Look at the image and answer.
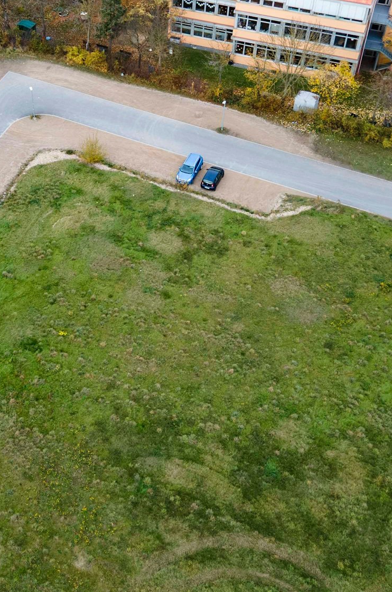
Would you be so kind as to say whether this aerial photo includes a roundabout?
No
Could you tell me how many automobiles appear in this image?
two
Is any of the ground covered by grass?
Yes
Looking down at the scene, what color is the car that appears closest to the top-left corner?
blue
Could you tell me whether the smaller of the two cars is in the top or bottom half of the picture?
top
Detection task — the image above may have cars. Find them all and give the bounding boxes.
[179,152,207,185]
[202,164,226,189]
